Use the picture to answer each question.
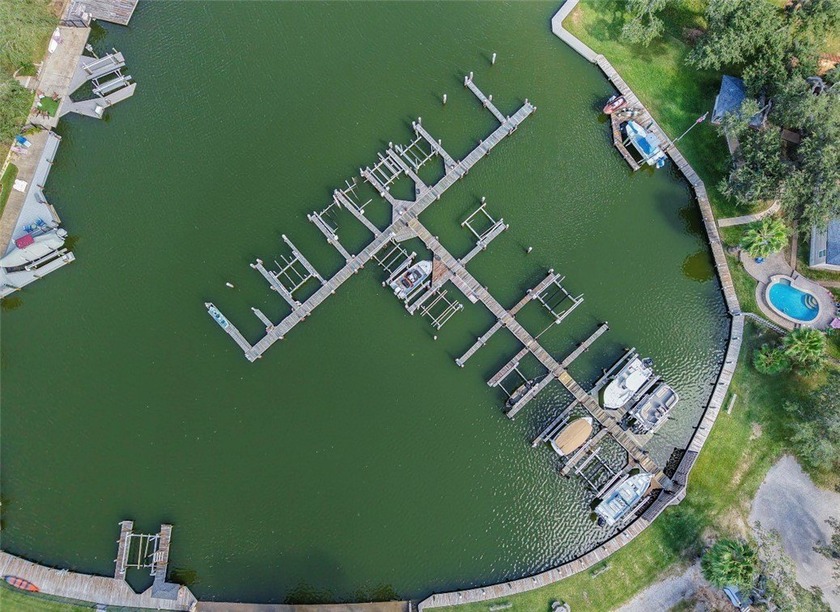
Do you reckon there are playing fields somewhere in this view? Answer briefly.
No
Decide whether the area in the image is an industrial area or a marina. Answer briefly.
marina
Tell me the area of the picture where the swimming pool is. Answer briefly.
right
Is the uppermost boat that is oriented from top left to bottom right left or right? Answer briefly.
right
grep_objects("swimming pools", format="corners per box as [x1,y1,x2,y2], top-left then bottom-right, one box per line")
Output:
[765,276,823,327]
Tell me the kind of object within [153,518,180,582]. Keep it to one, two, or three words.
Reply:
pier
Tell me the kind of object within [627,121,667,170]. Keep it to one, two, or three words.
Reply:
boat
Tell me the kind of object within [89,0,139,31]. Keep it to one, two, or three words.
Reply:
pier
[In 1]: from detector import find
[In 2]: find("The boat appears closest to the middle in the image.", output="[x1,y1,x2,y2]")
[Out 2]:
[391,263,432,299]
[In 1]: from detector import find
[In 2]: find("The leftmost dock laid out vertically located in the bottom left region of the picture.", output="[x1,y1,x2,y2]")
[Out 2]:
[113,517,140,580]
